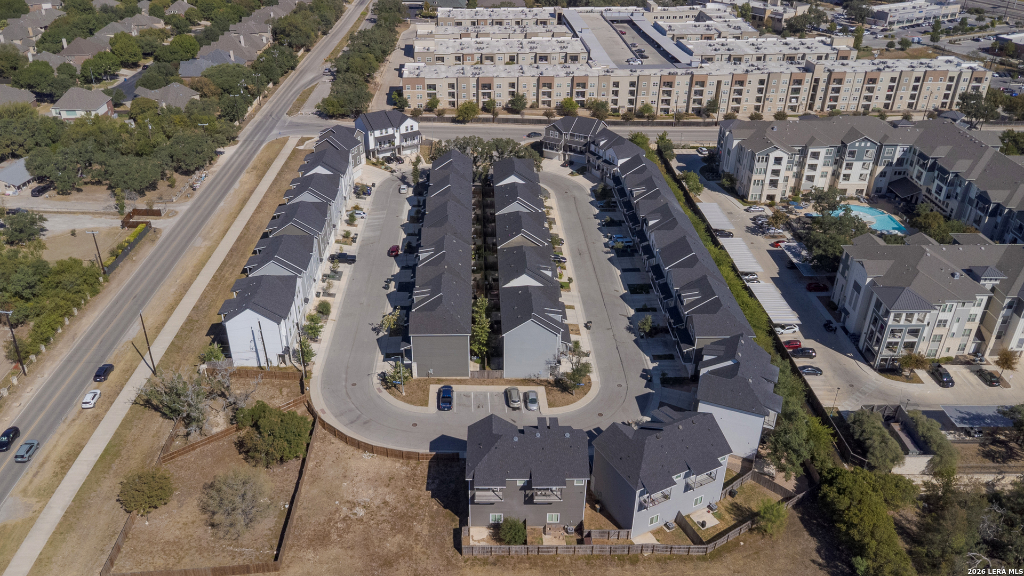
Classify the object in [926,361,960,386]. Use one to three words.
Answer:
truck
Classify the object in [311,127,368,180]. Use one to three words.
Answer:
house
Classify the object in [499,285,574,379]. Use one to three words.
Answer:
house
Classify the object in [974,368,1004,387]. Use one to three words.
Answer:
car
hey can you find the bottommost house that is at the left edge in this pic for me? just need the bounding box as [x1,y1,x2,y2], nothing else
[0,156,34,192]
